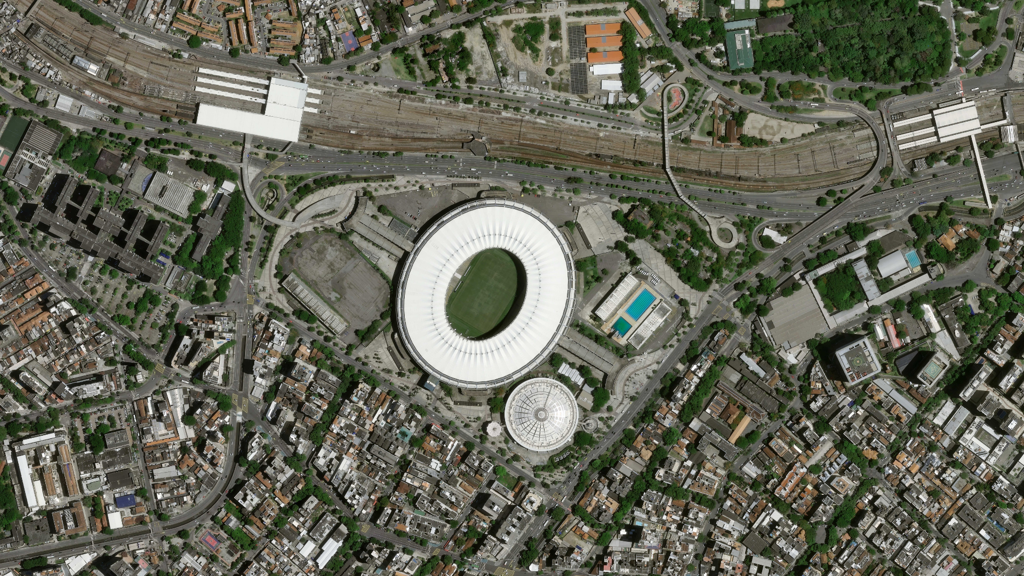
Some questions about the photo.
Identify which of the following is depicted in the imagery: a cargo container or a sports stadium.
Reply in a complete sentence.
Looking from above, you can make out a sports stadium.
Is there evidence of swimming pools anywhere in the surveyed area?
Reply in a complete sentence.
Yes, a swimming pool appears in the view.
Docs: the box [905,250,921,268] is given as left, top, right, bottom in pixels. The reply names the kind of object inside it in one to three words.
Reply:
swimming pool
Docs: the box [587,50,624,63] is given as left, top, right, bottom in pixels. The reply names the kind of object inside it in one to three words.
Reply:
building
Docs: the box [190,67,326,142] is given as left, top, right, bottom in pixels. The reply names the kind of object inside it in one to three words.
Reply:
train station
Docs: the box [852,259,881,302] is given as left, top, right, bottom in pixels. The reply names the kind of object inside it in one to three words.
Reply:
shed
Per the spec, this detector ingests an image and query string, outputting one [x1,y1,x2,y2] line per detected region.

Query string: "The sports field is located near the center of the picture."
[445,248,527,340]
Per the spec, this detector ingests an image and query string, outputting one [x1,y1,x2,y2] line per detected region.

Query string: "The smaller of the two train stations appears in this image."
[892,100,1007,149]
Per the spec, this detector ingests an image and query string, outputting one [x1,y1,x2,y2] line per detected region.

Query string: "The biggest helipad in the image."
[846,346,873,379]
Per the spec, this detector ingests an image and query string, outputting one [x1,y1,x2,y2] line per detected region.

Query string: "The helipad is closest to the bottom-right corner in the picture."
[924,361,942,377]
